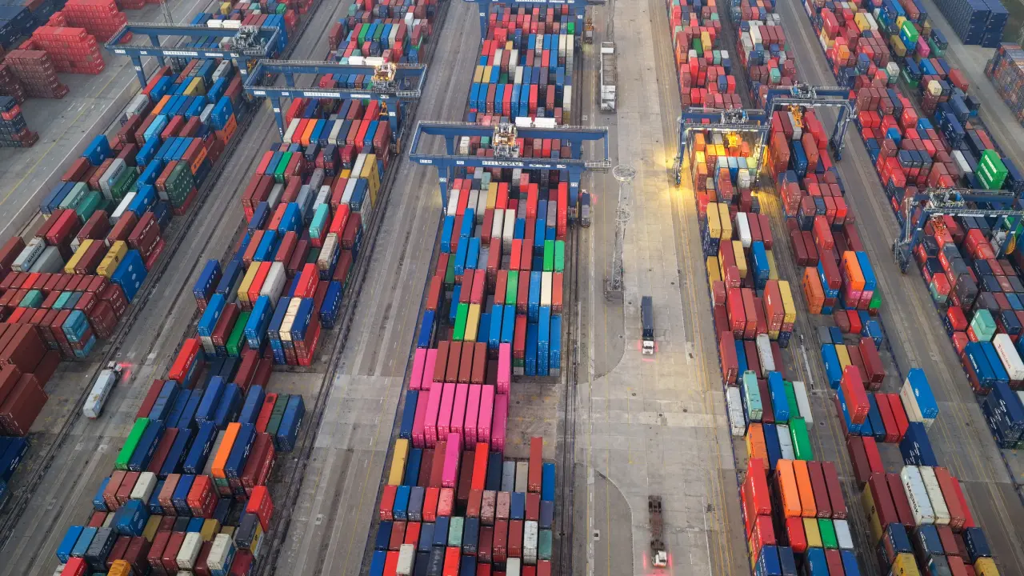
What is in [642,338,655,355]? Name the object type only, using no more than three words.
vehicle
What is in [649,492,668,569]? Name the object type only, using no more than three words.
vehicle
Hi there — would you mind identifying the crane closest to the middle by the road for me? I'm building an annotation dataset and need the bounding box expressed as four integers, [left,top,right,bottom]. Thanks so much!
[408,109,615,224]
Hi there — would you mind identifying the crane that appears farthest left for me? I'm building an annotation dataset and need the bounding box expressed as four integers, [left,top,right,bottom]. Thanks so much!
[103,14,281,104]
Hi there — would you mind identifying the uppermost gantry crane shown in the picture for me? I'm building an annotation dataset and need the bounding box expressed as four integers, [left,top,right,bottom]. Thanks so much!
[452,0,606,57]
